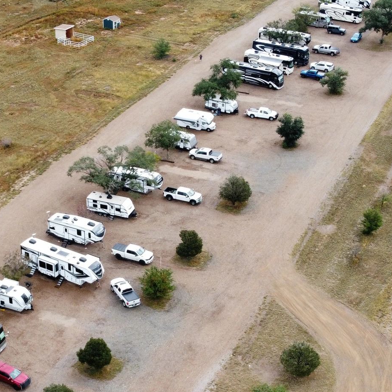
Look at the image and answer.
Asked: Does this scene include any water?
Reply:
No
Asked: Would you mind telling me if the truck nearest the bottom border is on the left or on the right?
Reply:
left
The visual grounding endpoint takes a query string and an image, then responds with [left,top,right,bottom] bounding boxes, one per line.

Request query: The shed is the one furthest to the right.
[99,12,125,30]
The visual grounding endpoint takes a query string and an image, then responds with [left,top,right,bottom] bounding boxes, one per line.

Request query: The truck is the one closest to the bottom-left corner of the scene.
[0,359,33,391]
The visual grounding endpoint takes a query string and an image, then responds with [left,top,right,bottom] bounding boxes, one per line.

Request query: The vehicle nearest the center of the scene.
[163,185,203,206]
